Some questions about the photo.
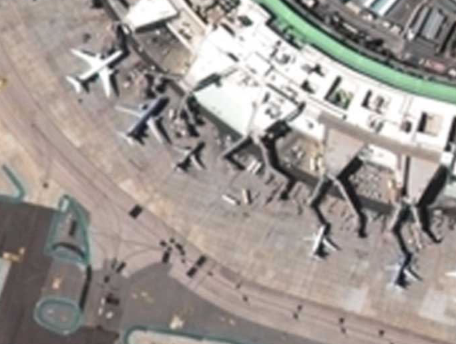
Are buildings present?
Yes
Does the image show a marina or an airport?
airport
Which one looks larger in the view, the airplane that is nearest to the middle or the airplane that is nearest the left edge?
the airplane that is nearest the left edge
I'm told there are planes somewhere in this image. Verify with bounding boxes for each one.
[64,49,120,98]
[172,144,203,173]
[301,228,335,260]
[384,257,417,290]
[118,97,168,144]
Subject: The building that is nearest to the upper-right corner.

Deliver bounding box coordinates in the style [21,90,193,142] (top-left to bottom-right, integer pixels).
[403,6,454,59]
